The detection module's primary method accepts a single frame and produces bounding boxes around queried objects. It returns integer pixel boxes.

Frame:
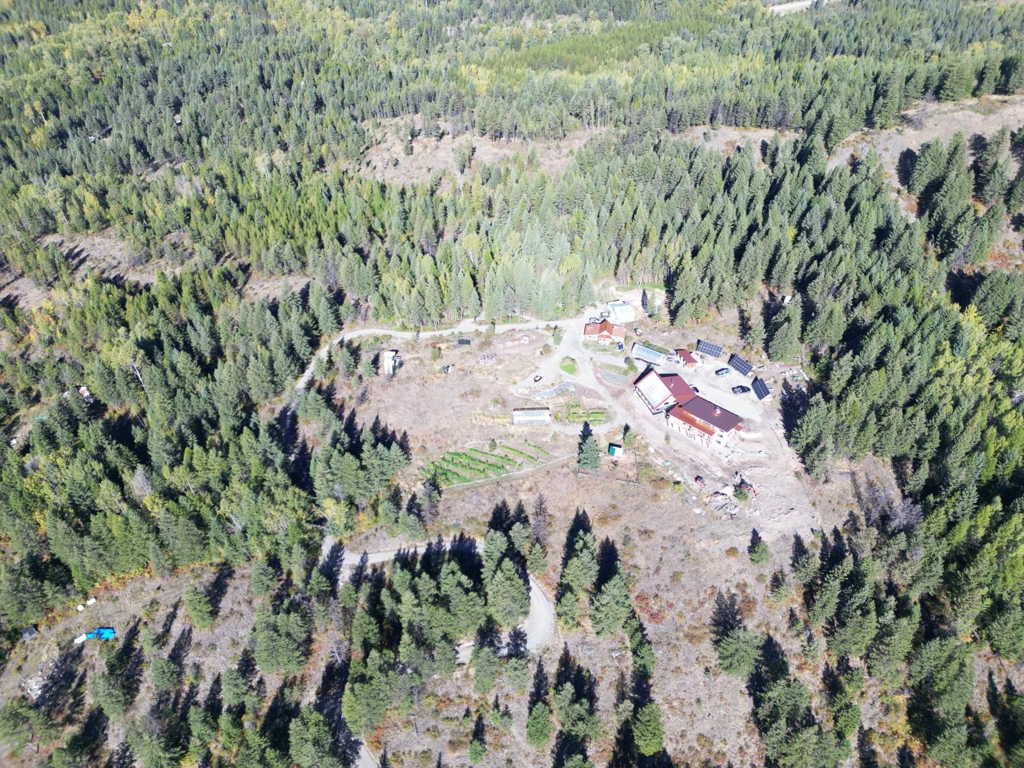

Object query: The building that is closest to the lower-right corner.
[664,396,743,469]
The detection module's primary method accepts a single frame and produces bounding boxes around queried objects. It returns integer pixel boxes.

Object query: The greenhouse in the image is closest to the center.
[512,411,552,430]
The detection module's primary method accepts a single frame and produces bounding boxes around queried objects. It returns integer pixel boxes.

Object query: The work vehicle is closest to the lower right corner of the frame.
[737,479,767,499]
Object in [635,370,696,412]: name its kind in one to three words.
house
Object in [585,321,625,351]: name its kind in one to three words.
house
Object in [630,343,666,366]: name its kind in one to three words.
greenhouse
